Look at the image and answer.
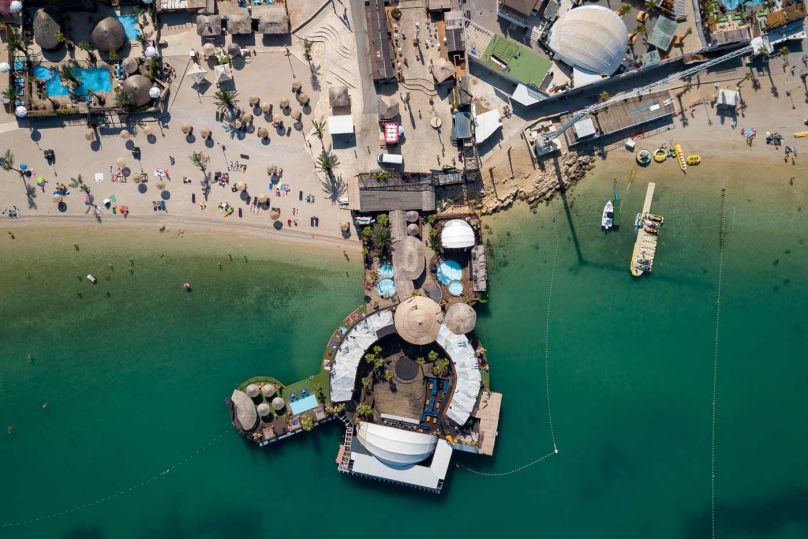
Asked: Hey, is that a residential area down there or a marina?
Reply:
marina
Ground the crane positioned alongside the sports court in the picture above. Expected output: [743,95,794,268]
[540,44,757,144]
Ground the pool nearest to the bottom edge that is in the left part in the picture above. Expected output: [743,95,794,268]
[290,394,319,415]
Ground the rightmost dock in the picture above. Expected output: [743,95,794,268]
[632,182,664,275]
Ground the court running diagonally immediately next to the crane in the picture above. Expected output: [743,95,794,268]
[466,17,552,89]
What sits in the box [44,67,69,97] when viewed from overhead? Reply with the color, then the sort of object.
blue swimming pool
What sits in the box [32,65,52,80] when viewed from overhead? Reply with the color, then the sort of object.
blue swimming pool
